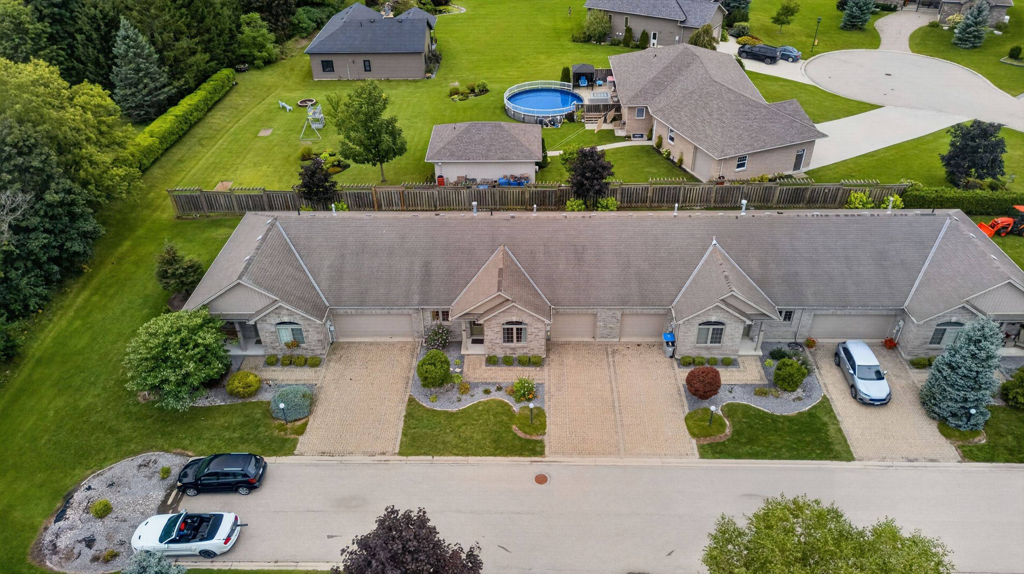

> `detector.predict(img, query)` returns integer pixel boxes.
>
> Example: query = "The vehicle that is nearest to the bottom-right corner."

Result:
[835,339,899,405]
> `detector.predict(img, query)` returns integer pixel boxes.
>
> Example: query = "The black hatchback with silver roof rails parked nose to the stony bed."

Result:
[172,449,272,496]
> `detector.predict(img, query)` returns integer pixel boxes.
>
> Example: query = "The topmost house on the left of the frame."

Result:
[299,1,445,79]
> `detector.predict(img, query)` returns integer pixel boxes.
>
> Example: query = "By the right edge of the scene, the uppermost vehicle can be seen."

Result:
[979,197,1024,235]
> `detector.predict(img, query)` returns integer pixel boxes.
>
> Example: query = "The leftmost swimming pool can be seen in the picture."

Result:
[504,82,585,127]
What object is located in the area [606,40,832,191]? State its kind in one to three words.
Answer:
house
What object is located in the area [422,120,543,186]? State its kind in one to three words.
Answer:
shed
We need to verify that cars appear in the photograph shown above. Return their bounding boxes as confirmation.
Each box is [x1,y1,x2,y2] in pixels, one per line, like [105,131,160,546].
[124,504,243,559]
[779,46,804,62]
[835,339,899,405]
[172,449,272,496]
[741,44,783,64]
